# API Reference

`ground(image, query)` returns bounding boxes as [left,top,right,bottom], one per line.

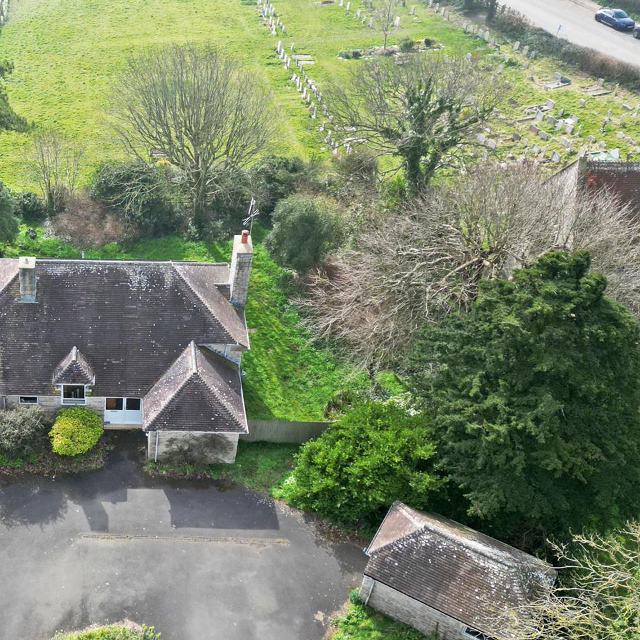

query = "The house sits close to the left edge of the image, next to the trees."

[0,225,252,461]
